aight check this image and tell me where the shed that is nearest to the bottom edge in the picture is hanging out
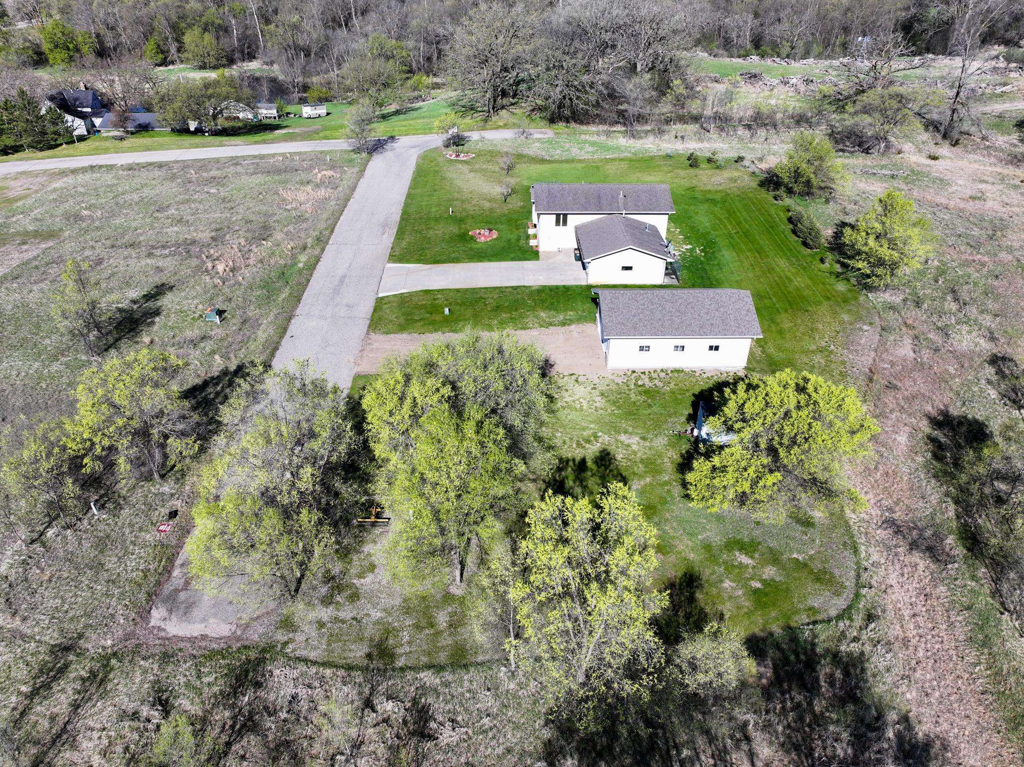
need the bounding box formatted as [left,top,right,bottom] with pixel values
[591,289,764,368]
